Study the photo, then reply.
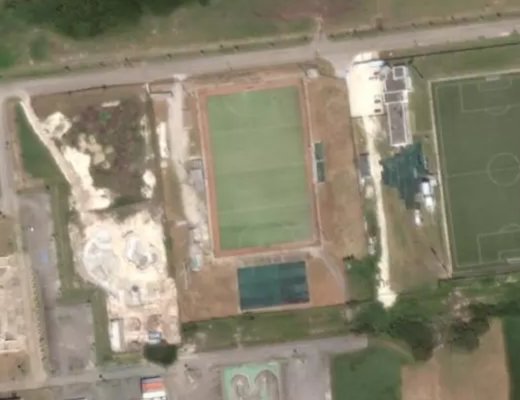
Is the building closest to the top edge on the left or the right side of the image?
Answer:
right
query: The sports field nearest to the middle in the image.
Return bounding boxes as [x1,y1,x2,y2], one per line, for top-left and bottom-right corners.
[196,77,320,257]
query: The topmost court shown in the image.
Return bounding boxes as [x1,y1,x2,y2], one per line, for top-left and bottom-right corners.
[236,260,312,313]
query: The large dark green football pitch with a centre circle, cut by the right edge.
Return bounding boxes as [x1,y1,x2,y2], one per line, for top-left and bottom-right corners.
[431,66,520,275]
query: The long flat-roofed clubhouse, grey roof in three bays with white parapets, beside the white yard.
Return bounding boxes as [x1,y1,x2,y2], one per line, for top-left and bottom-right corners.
[385,66,413,146]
